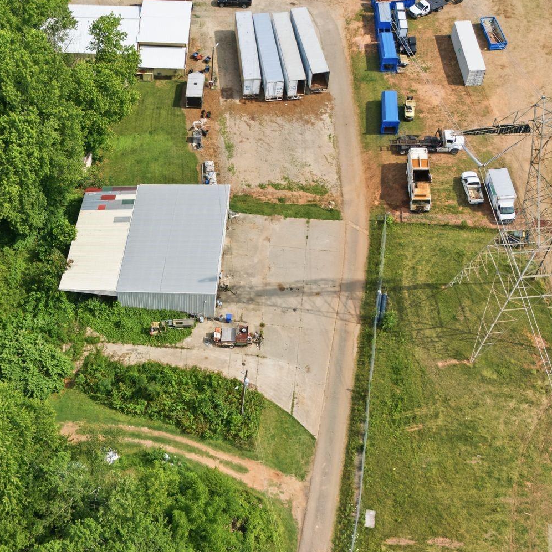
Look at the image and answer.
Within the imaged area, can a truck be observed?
Yes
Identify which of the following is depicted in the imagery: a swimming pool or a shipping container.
shipping container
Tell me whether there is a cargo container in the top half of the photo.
Yes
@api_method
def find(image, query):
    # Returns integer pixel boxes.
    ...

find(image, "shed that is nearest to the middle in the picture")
[116,182,231,319]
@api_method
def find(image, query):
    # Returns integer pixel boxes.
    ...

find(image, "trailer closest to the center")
[204,326,255,347]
